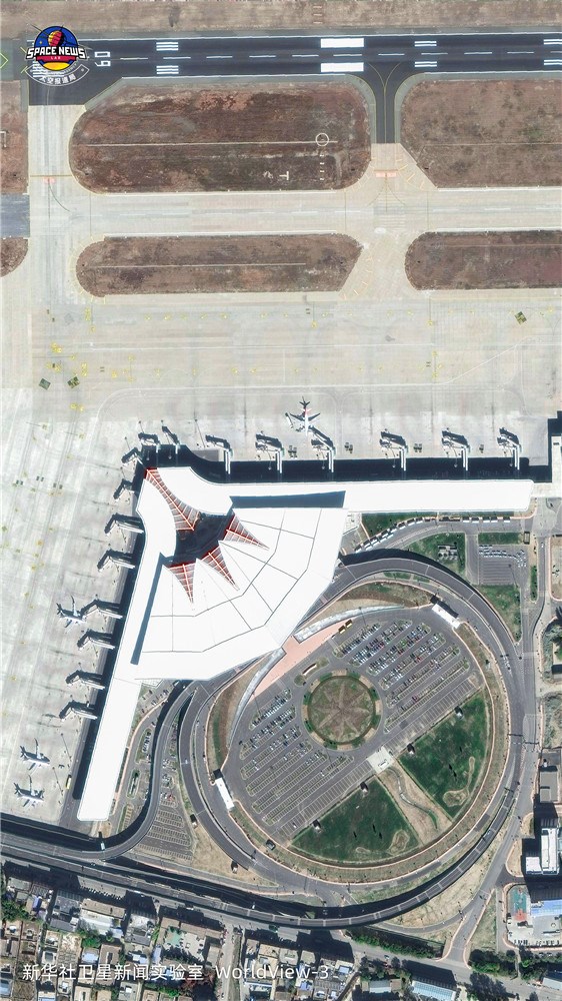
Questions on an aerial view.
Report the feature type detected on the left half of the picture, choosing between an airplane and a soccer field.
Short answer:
airplane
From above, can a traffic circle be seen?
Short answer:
Yes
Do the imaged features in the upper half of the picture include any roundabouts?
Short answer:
No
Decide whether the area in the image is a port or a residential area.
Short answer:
residential area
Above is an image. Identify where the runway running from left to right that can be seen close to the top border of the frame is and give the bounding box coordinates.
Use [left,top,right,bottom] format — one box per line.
[0,32,562,106]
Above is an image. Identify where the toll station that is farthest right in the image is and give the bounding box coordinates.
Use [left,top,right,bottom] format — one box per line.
[433,603,460,628]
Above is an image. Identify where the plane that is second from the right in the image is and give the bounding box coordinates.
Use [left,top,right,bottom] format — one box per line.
[58,603,85,629]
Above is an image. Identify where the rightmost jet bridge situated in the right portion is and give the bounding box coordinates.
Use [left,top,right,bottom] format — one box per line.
[497,438,518,477]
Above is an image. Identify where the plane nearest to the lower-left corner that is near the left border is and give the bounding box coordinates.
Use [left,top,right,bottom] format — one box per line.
[15,783,44,810]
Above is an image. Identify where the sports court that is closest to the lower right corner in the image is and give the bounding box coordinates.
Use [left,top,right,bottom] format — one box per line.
[508,887,530,922]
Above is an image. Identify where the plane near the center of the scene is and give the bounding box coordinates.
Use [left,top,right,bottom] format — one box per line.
[292,407,321,436]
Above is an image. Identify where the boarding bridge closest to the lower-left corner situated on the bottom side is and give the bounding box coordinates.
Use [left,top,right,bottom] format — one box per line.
[61,703,102,721]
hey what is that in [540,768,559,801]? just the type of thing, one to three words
building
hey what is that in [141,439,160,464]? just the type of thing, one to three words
jet bridge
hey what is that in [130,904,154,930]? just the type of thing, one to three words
house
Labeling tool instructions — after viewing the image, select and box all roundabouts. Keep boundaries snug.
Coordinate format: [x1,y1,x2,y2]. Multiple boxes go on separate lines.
[300,669,382,751]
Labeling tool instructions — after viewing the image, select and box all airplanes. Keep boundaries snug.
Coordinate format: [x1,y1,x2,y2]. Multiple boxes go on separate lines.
[292,407,321,436]
[21,746,50,774]
[15,783,44,810]
[58,603,85,629]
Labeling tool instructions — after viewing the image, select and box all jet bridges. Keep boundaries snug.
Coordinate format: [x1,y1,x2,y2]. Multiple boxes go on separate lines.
[106,515,145,536]
[497,438,518,477]
[66,671,109,691]
[442,440,467,477]
[308,427,334,479]
[82,600,127,621]
[61,703,102,721]
[97,552,139,571]
[123,453,147,471]
[206,441,231,479]
[380,440,406,477]
[164,431,179,464]
[256,442,281,479]
[78,631,119,651]
[141,439,160,464]
[113,482,141,500]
